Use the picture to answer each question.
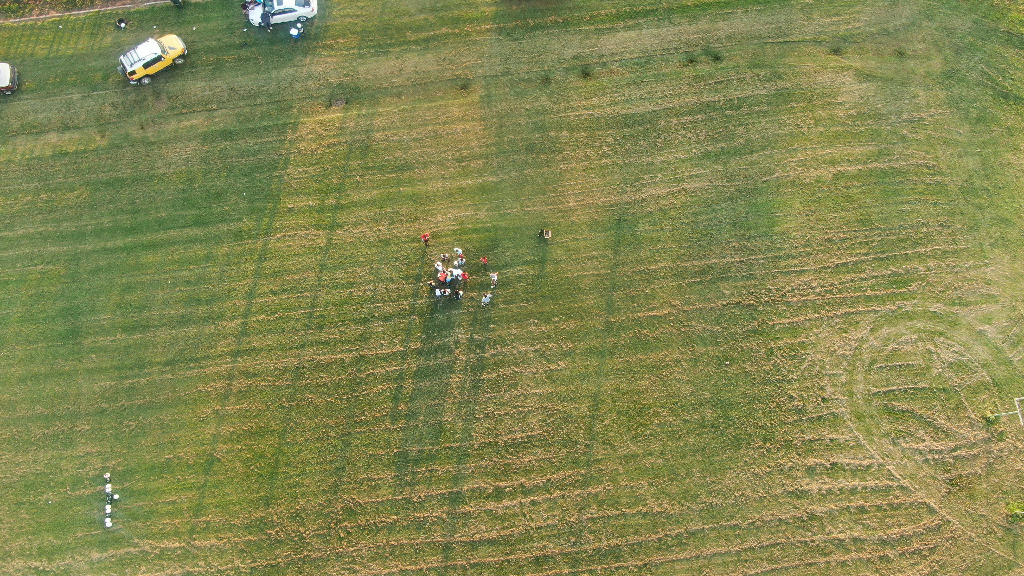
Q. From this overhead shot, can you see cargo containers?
No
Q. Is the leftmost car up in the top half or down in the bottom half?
top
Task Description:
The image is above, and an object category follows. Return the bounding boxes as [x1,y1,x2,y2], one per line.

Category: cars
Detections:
[246,0,317,27]
[0,65,20,96]
[117,33,189,86]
